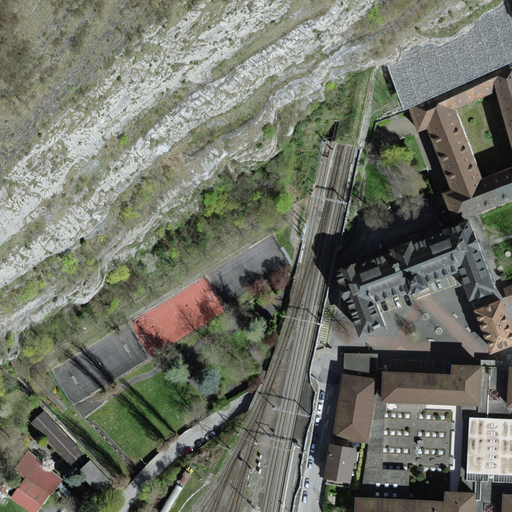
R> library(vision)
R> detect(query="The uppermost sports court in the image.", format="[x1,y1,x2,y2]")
[206,235,289,309]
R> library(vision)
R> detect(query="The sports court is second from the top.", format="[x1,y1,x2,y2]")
[132,278,225,356]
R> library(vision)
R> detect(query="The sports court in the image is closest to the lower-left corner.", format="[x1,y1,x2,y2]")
[52,324,148,404]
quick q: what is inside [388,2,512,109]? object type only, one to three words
building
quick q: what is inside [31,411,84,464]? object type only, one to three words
shed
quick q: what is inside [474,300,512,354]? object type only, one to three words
house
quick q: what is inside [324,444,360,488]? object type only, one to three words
house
